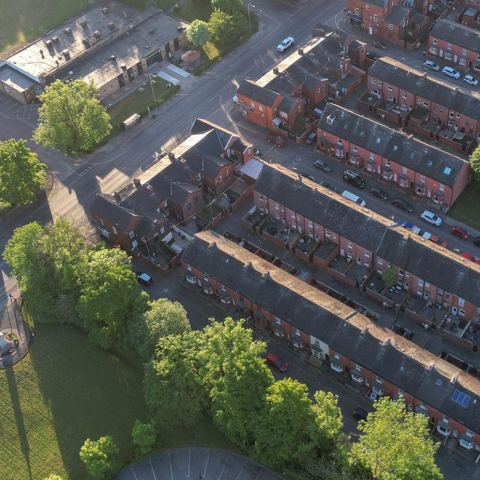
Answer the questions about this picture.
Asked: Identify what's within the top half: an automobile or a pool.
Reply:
automobile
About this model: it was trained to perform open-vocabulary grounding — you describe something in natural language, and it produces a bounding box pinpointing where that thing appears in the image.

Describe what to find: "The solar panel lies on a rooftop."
[449,393,471,413]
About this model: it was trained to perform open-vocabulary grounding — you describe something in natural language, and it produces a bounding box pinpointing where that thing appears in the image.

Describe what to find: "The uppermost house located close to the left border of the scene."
[0,0,191,118]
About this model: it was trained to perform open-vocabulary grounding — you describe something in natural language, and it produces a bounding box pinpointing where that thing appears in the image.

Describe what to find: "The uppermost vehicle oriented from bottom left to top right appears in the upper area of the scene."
[277,36,296,51]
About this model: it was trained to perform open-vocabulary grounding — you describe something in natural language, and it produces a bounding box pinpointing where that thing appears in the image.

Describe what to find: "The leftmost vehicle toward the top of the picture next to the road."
[149,147,172,164]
